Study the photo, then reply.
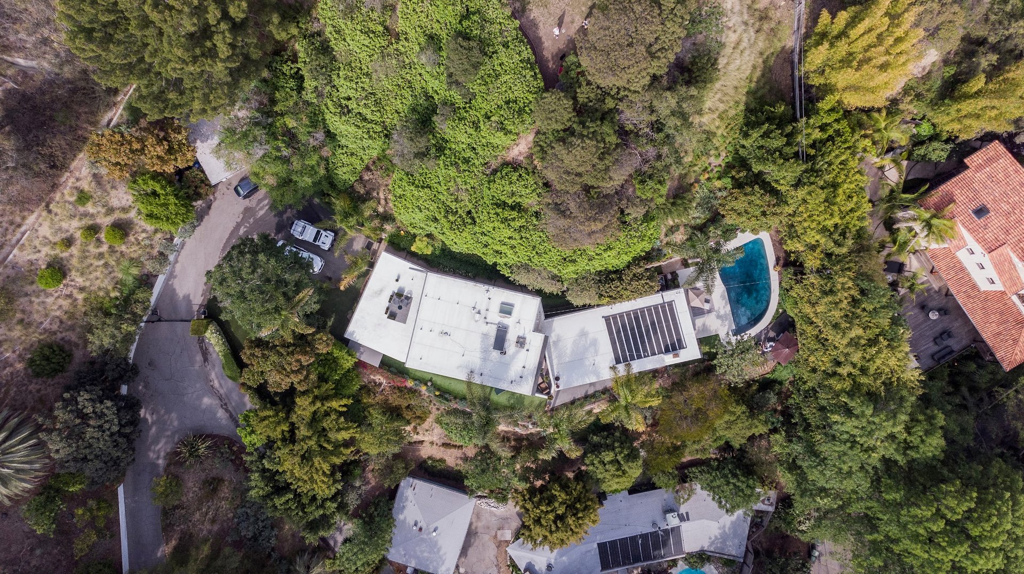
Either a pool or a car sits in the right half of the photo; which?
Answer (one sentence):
You can see a pool in the right half of the photo.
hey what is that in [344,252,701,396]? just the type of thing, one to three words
house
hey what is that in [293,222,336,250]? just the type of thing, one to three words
car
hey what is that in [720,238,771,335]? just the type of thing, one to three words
swimming pool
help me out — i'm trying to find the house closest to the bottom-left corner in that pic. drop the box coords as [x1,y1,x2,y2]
[387,474,478,574]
